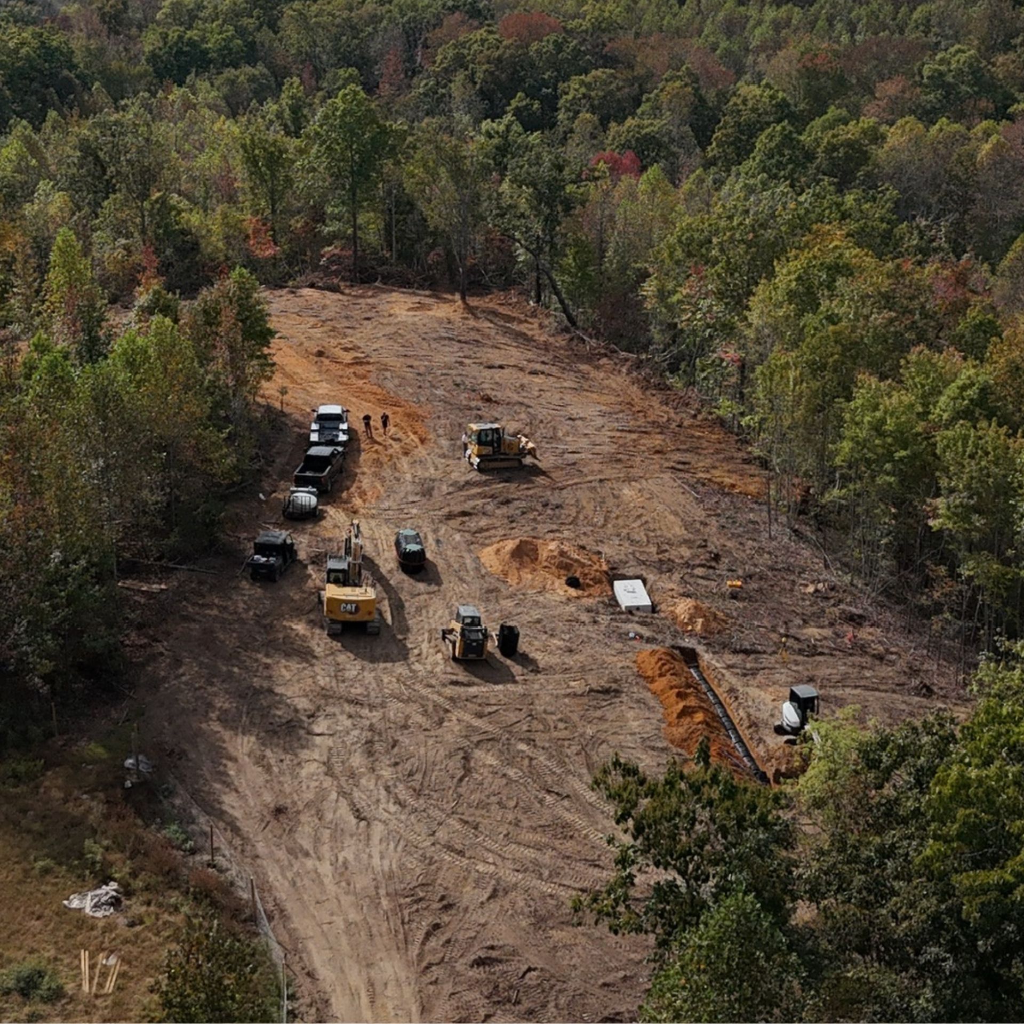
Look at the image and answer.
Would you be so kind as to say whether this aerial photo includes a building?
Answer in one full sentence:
No, I can't see a single building in this photo.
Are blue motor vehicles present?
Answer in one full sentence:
No, no blue motor vehicle is visible in the scene.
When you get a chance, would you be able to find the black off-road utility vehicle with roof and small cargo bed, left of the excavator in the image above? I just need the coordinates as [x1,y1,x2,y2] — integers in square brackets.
[248,526,298,579]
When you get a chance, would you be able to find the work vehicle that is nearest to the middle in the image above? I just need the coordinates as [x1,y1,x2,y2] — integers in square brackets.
[462,418,542,473]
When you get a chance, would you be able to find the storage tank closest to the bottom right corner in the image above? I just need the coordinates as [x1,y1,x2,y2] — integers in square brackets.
[613,578,653,613]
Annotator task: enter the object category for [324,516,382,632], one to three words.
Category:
work vehicle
